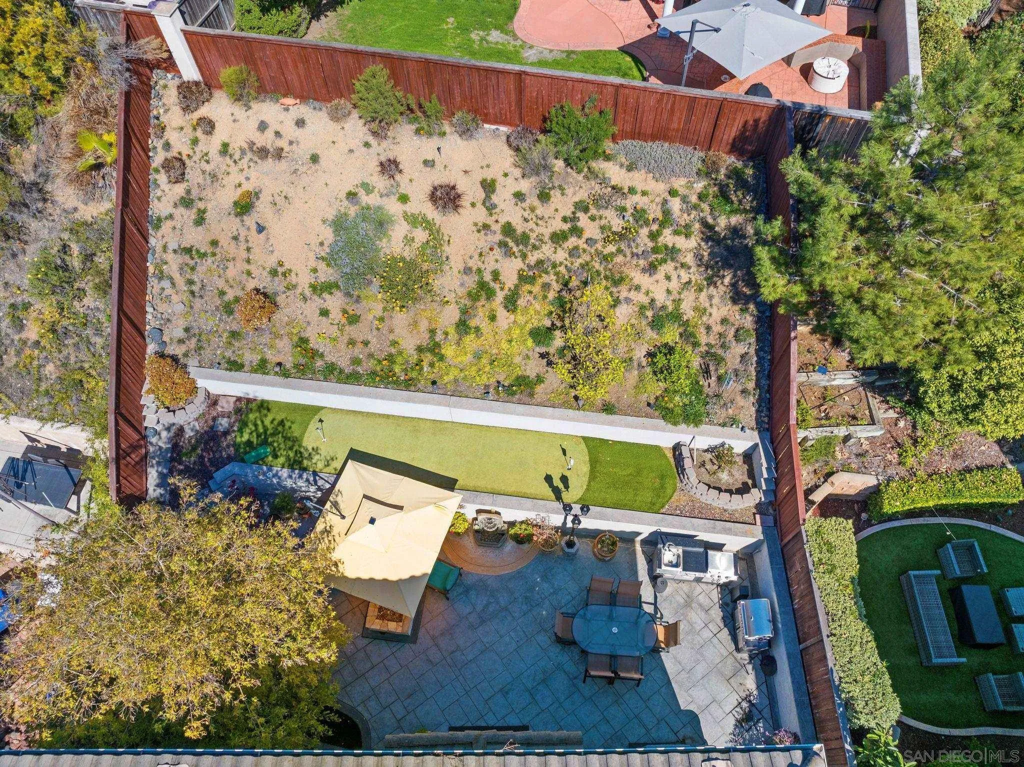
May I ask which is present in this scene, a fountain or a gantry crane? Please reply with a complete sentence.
Of the two, only a fountain appears.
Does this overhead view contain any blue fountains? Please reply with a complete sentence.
No, the scene contains no blue fountain.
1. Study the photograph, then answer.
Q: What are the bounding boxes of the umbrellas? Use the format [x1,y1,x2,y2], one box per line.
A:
[654,0,833,139]
[293,459,462,618]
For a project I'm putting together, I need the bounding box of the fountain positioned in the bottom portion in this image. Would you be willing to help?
[471,507,513,550]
